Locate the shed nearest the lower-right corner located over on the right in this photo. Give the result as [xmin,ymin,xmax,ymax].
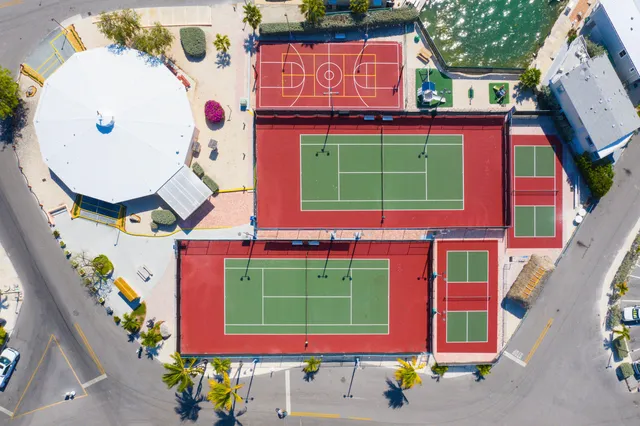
[502,249,553,311]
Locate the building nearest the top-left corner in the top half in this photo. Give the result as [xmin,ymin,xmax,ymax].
[35,46,199,206]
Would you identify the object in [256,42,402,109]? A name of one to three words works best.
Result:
basketball court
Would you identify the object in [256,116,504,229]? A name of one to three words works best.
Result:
tennis court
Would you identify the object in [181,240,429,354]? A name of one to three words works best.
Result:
tennis court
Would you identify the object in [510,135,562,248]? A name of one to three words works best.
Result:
sports court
